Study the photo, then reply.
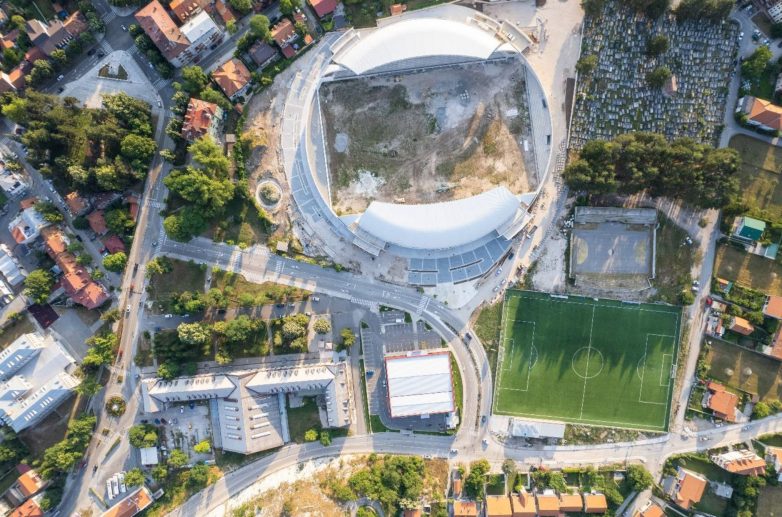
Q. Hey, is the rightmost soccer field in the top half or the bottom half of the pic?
bottom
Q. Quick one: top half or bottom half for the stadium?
top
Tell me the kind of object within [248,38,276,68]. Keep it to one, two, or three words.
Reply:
house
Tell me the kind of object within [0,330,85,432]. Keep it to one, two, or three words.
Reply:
building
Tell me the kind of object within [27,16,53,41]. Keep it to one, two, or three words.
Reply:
house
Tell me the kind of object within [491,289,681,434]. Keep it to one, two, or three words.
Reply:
soccer field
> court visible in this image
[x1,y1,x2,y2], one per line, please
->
[571,207,659,280]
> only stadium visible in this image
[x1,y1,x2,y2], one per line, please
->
[281,0,553,284]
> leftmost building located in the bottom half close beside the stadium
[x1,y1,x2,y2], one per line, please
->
[140,365,355,454]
